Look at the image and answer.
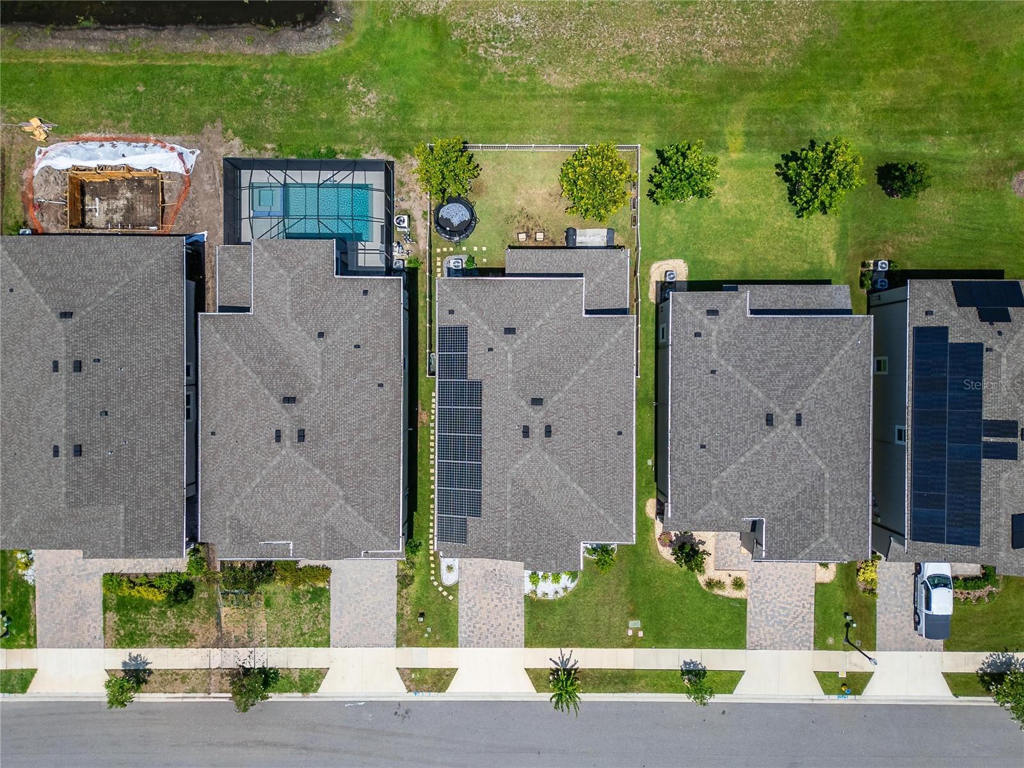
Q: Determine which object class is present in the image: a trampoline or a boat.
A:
trampoline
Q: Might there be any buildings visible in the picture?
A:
Yes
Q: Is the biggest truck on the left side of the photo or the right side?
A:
right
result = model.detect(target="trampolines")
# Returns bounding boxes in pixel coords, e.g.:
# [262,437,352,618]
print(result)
[434,197,478,247]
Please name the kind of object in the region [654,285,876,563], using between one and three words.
house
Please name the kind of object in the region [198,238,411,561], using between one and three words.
house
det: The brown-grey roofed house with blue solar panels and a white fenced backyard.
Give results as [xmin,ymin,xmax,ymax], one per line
[435,247,637,570]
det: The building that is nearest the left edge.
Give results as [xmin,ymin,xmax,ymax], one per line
[0,233,215,559]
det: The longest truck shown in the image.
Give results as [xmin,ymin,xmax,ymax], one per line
[913,561,954,638]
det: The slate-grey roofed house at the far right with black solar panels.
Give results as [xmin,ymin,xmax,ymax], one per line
[869,278,1024,571]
